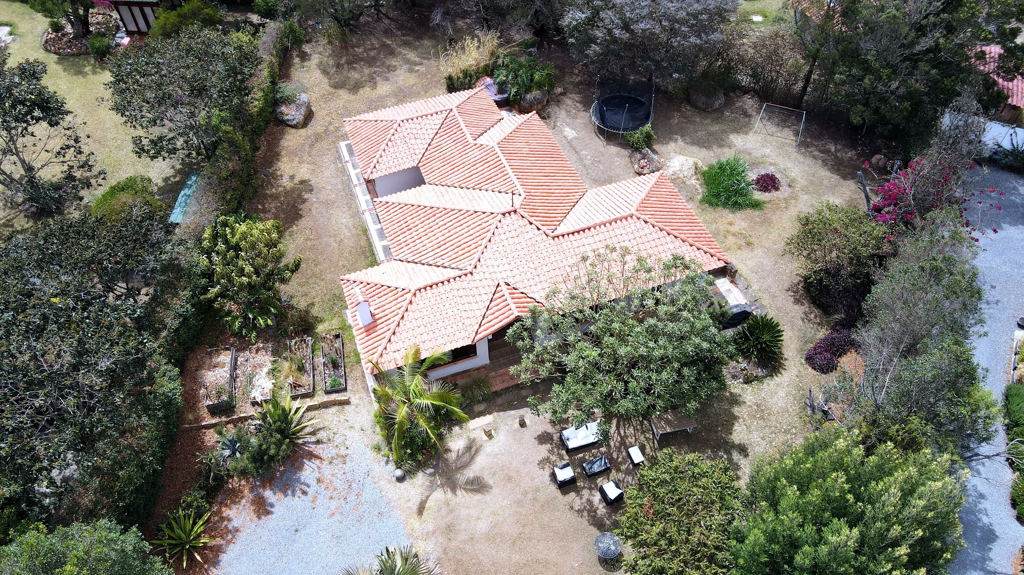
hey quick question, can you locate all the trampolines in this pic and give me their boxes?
[590,69,656,144]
